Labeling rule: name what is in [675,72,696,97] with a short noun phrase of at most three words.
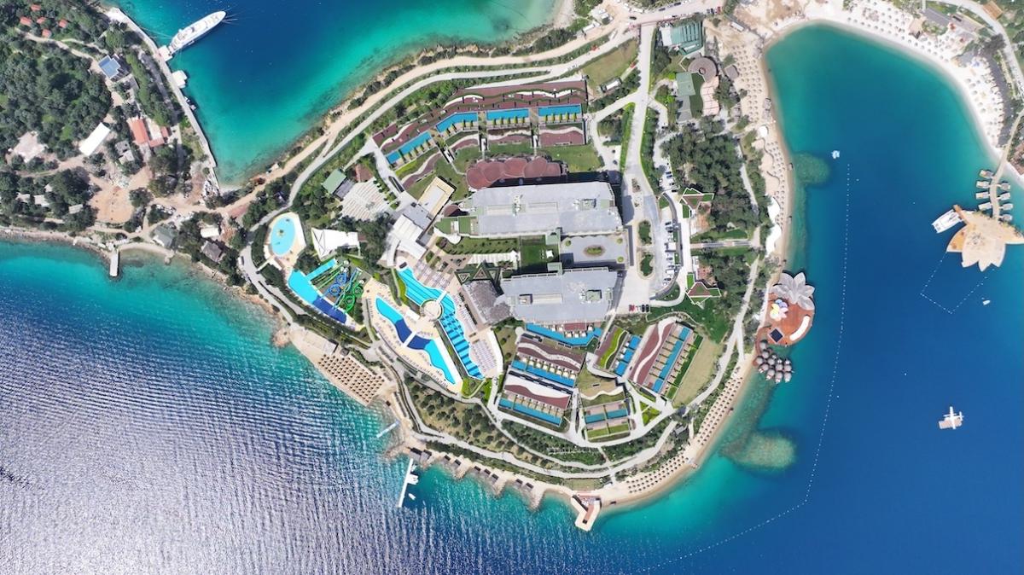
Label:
building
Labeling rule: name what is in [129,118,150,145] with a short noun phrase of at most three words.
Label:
house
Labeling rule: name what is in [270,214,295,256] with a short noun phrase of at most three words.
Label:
swimming pool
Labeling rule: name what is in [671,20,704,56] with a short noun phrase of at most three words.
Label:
greenhouse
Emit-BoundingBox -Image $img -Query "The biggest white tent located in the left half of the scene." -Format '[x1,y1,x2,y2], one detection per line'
[311,227,359,259]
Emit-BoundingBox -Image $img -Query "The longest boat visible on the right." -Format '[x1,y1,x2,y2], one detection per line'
[932,210,960,234]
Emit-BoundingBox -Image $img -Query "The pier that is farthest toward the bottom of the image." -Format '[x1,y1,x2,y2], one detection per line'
[572,491,601,530]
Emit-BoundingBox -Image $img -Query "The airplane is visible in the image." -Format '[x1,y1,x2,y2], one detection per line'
[945,405,968,430]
